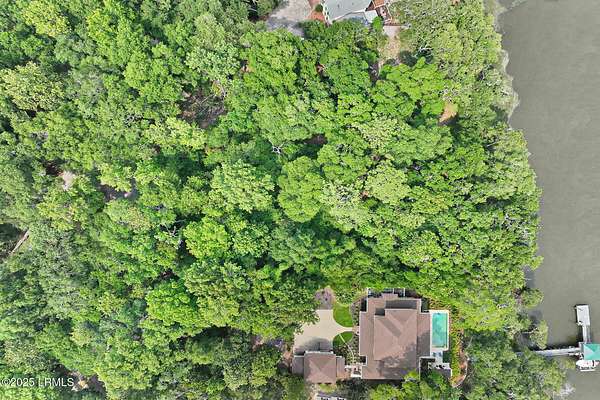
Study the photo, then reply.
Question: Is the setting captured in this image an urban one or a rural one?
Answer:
rural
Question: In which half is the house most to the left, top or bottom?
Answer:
bottom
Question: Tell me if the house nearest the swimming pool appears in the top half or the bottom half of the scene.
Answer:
bottom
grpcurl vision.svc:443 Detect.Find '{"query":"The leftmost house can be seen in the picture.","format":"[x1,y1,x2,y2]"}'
[292,349,345,384]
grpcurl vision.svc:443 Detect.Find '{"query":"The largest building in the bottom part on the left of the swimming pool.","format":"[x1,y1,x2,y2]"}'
[356,290,430,380]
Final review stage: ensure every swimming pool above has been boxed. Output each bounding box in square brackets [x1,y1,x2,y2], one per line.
[431,310,451,351]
